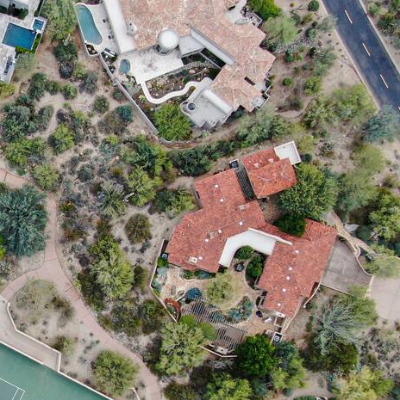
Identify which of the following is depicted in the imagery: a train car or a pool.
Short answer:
pool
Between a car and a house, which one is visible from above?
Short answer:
house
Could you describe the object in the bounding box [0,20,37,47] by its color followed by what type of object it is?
blue swimming pool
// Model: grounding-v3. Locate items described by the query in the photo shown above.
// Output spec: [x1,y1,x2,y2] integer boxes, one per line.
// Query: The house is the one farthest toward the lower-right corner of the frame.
[167,141,338,317]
